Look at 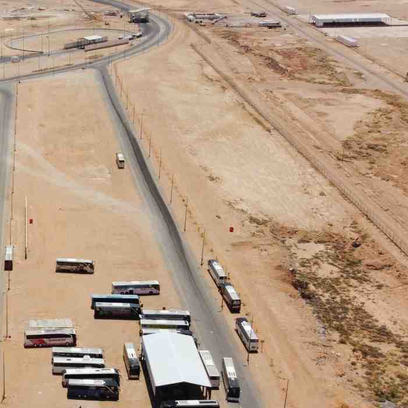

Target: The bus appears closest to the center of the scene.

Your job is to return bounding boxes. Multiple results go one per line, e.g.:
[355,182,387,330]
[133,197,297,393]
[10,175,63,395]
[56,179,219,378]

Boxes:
[207,262,231,288]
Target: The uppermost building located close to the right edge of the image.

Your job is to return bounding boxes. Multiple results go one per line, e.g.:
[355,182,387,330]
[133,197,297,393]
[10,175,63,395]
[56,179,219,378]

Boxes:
[300,10,393,26]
